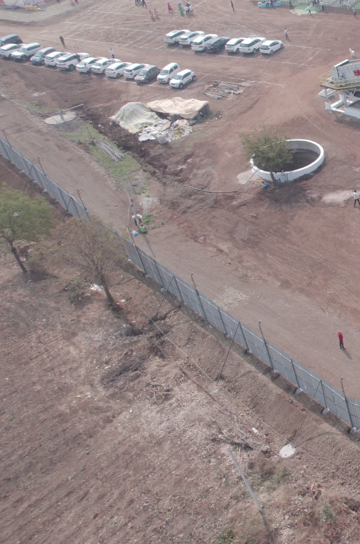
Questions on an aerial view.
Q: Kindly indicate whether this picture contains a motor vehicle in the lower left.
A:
No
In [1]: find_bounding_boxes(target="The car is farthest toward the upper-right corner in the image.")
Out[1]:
[258,42,283,56]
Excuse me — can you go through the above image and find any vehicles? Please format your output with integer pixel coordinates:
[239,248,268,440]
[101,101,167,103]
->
[37,53,64,68]
[0,34,19,48]
[119,64,141,79]
[167,69,196,87]
[237,38,264,55]
[131,62,160,84]
[222,40,241,54]
[177,34,197,48]
[52,54,86,71]
[74,58,105,75]
[188,36,210,53]
[160,32,187,47]
[87,59,119,76]
[203,37,229,54]
[28,48,55,65]
[102,63,128,78]
[8,42,42,62]
[258,42,283,56]
[152,60,182,84]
